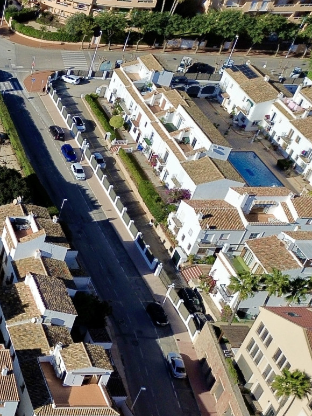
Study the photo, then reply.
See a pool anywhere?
Yes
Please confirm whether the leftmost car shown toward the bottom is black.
Yes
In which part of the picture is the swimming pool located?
right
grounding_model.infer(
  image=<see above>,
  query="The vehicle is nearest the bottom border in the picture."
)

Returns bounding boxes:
[166,348,189,377]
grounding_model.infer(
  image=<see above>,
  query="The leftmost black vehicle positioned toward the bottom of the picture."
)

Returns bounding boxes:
[146,298,172,323]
